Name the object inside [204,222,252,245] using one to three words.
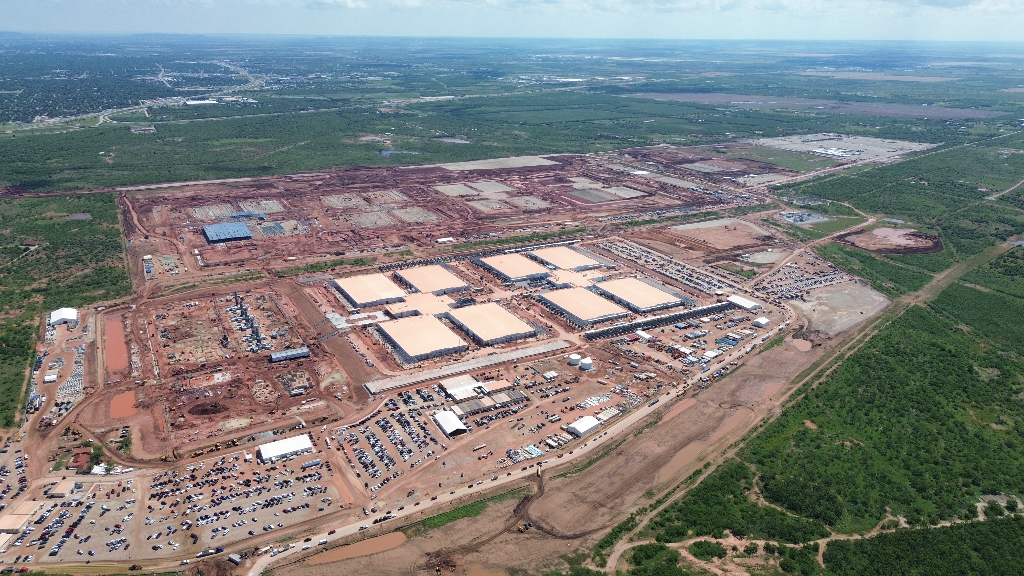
building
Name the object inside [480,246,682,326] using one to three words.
building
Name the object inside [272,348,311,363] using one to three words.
shed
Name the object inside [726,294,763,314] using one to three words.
tent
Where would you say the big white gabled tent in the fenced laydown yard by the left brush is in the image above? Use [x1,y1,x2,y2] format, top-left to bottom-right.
[50,306,80,326]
